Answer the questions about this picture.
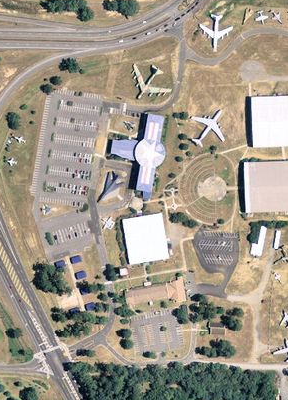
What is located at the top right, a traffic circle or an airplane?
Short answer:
airplane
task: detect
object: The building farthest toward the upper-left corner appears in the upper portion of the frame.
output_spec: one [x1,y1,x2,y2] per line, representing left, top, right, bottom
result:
[111,114,165,199]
